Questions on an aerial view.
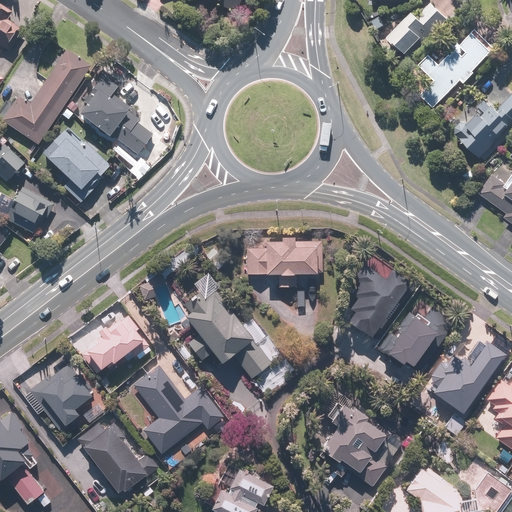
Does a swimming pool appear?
Yes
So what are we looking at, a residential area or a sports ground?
residential area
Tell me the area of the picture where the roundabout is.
top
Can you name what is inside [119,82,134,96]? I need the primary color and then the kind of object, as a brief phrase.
white car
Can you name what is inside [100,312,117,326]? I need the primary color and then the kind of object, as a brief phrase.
white vehicle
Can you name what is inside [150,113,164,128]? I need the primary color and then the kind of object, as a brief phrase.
white vehicle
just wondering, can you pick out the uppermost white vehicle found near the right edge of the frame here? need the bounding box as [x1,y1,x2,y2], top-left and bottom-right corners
[483,286,500,299]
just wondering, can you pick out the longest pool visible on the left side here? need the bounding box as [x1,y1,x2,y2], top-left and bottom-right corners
[152,274,186,326]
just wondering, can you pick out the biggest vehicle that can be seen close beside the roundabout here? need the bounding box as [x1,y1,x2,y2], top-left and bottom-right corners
[318,124,330,151]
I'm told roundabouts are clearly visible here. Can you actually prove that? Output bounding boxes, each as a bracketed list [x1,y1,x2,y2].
[226,80,320,174]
